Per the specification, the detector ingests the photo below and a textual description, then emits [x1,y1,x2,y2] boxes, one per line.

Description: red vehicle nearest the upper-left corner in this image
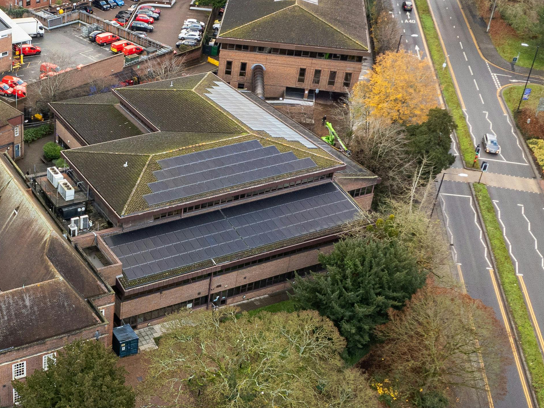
[16,44,42,57]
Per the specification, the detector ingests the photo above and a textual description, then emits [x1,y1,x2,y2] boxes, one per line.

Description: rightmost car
[482,131,501,155]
